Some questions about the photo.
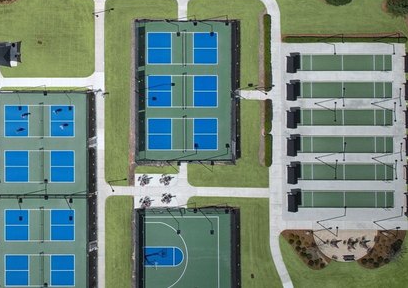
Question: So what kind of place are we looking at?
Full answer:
What you see here is a sports ground.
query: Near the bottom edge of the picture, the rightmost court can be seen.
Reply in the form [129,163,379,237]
[134,208,233,288]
